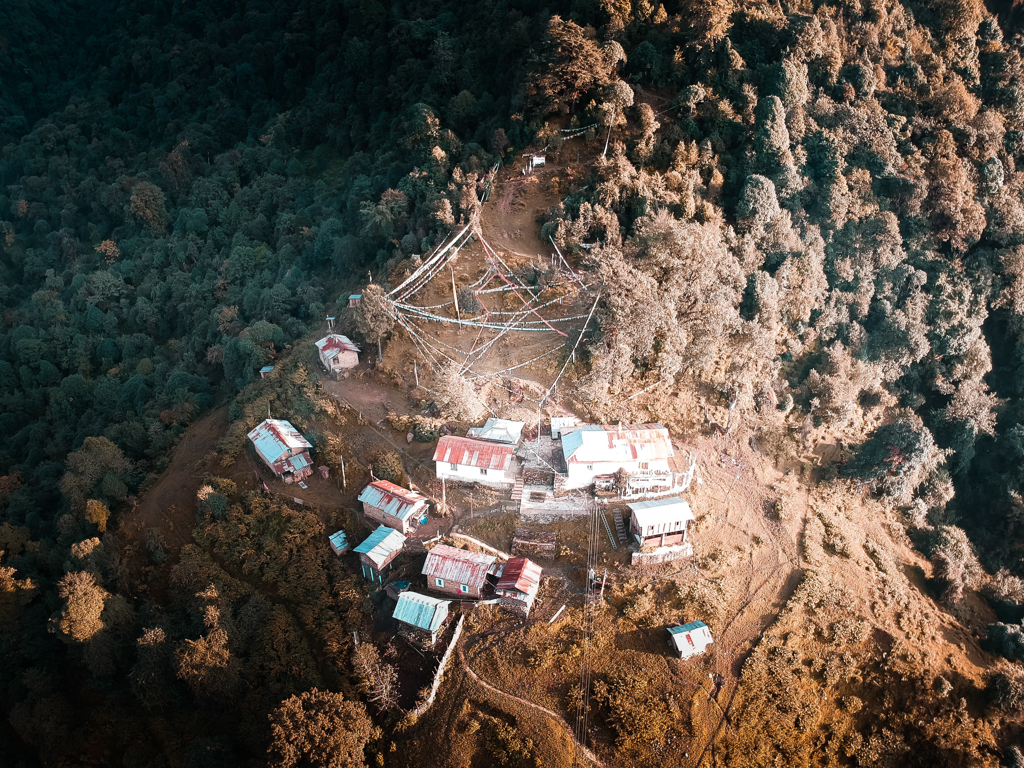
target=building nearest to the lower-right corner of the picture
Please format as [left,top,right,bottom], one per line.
[668,621,713,660]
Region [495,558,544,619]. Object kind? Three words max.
house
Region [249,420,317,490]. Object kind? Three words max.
house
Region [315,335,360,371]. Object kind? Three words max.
building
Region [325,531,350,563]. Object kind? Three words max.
shed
